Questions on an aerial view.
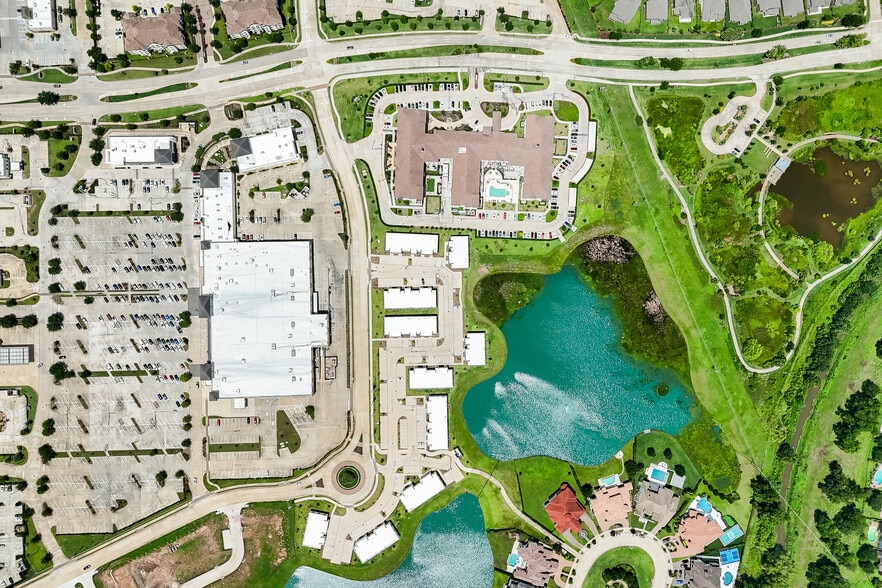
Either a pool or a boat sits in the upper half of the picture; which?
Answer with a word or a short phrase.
pool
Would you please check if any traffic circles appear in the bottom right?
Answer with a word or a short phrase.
No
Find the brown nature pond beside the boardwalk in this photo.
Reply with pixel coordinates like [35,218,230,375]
[766,146,882,248]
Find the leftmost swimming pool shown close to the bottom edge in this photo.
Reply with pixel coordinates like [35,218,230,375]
[507,548,521,568]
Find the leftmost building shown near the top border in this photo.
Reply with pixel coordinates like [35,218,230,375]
[123,3,189,56]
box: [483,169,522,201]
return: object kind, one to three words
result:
swimming pool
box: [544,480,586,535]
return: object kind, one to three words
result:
house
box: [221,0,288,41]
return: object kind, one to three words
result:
building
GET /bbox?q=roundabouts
[331,461,365,495]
